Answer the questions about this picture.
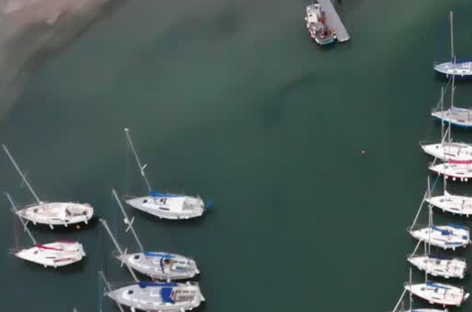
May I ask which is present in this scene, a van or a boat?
boat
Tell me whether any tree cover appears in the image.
No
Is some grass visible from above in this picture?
No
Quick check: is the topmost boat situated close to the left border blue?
No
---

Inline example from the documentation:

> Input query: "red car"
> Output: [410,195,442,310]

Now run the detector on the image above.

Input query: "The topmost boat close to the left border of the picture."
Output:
[1,144,96,226]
